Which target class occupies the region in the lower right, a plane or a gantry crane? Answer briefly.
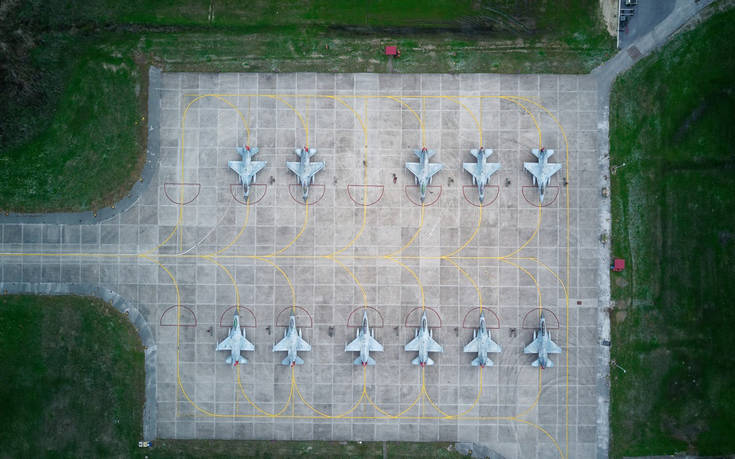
plane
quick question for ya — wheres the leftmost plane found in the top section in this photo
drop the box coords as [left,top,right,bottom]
[228,145,266,201]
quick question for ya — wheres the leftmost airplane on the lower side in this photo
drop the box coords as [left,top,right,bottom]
[217,310,256,367]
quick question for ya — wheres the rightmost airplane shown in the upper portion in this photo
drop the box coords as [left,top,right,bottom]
[523,147,562,203]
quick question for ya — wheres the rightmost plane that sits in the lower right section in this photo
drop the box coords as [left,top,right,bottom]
[523,313,562,370]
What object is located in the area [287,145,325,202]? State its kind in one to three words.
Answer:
airplane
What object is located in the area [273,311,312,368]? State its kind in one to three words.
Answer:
airplane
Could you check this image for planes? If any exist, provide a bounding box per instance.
[405,145,444,201]
[273,311,312,368]
[523,313,562,370]
[287,145,325,202]
[404,312,443,368]
[345,312,383,368]
[228,145,266,201]
[463,312,502,368]
[523,147,562,203]
[462,146,501,205]
[217,310,256,367]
